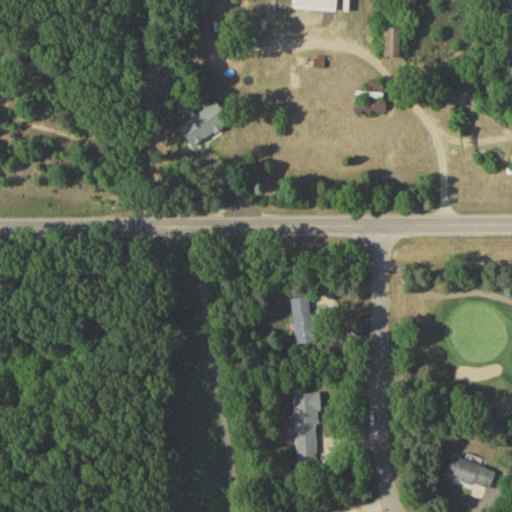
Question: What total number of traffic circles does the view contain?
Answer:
none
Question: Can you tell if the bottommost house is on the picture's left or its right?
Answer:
right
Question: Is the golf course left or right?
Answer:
right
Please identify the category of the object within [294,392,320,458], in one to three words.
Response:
house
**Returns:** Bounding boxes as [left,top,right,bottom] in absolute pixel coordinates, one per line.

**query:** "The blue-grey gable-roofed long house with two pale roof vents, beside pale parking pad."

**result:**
[290,296,316,345]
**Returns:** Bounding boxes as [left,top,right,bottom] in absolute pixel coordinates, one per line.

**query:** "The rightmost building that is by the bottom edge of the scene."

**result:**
[450,454,496,499]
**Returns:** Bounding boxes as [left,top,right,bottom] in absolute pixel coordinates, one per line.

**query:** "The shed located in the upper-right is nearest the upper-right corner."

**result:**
[384,27,400,57]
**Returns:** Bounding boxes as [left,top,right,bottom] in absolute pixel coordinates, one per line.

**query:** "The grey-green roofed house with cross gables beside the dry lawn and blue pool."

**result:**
[182,102,226,150]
